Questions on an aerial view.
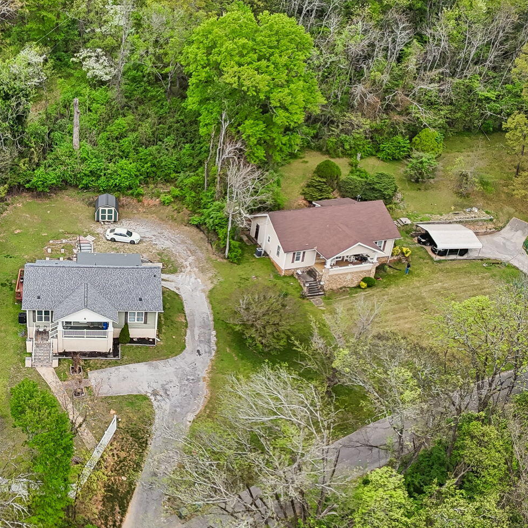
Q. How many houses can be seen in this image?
2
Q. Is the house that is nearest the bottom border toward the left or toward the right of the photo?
left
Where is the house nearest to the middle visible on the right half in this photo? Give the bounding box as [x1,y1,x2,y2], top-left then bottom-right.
[244,195,403,308]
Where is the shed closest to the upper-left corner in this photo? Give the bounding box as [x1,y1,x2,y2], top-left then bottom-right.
[94,193,119,222]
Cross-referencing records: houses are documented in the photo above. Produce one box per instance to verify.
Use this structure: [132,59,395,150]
[12,253,164,367]
[244,195,403,308]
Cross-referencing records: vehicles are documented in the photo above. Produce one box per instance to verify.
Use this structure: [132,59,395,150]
[421,242,465,258]
[403,232,434,247]
[103,226,140,244]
